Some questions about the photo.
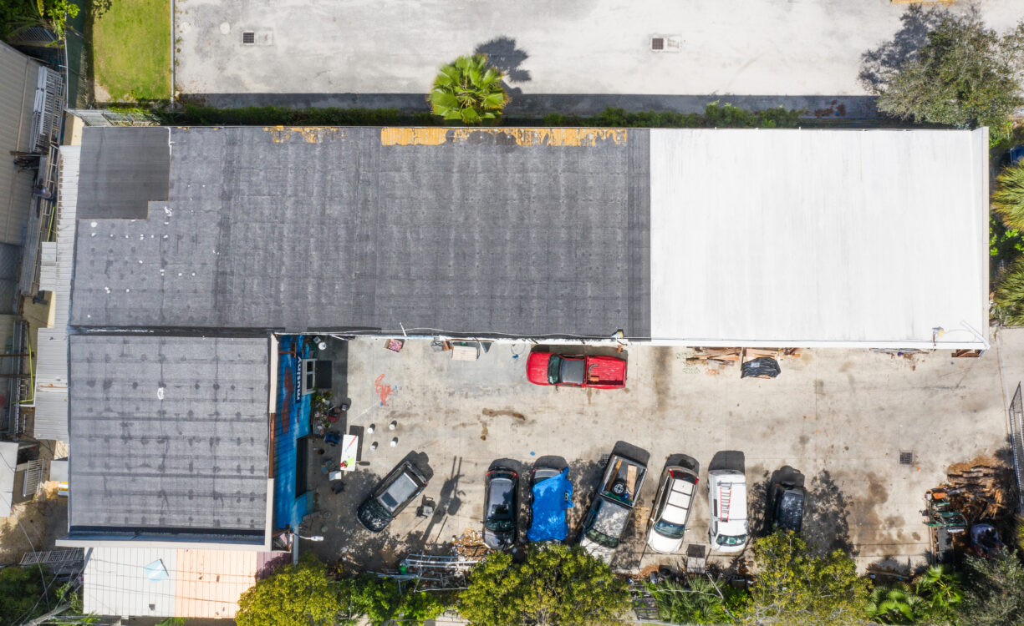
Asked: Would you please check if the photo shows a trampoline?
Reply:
No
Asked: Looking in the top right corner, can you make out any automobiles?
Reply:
No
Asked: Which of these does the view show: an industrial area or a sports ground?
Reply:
industrial area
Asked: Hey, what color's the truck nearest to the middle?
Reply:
red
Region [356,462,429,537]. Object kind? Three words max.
car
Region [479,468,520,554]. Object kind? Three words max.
car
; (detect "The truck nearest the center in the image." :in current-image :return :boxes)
[527,352,629,393]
